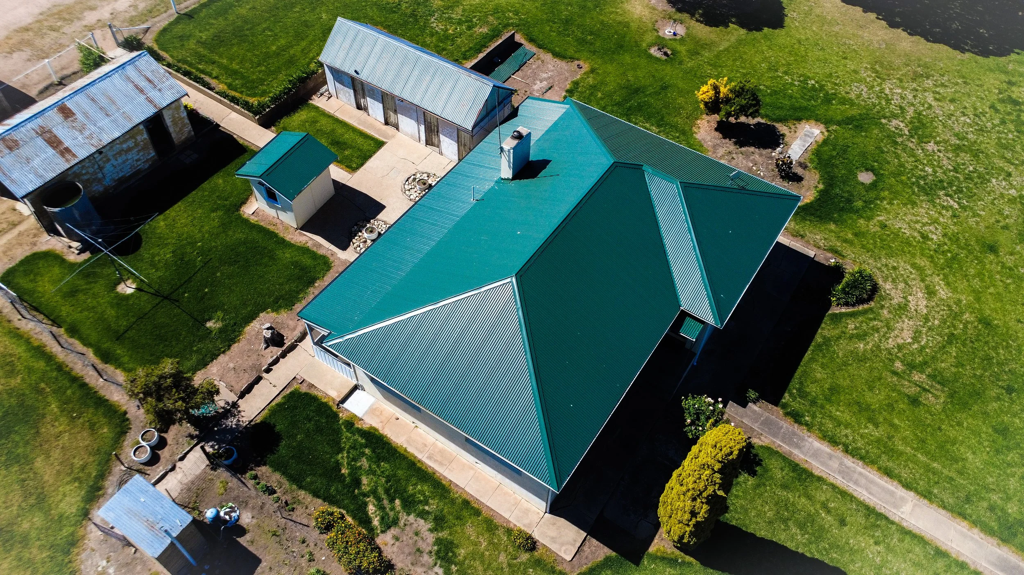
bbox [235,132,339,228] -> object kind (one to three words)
shed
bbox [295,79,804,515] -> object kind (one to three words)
house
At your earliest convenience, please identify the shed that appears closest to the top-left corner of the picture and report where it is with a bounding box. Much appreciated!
[0,49,191,239]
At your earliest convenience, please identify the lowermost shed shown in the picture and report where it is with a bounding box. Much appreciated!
[96,474,209,575]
